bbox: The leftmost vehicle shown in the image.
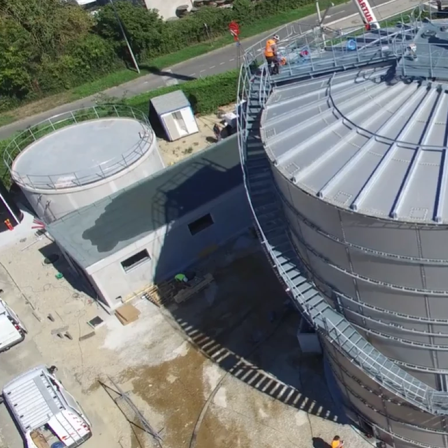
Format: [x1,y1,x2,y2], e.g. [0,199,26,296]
[0,294,31,350]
